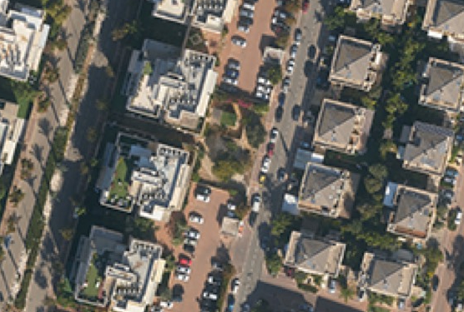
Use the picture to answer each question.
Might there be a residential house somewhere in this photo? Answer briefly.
Yes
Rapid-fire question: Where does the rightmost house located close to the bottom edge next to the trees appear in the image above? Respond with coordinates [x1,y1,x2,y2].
[357,252,425,304]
